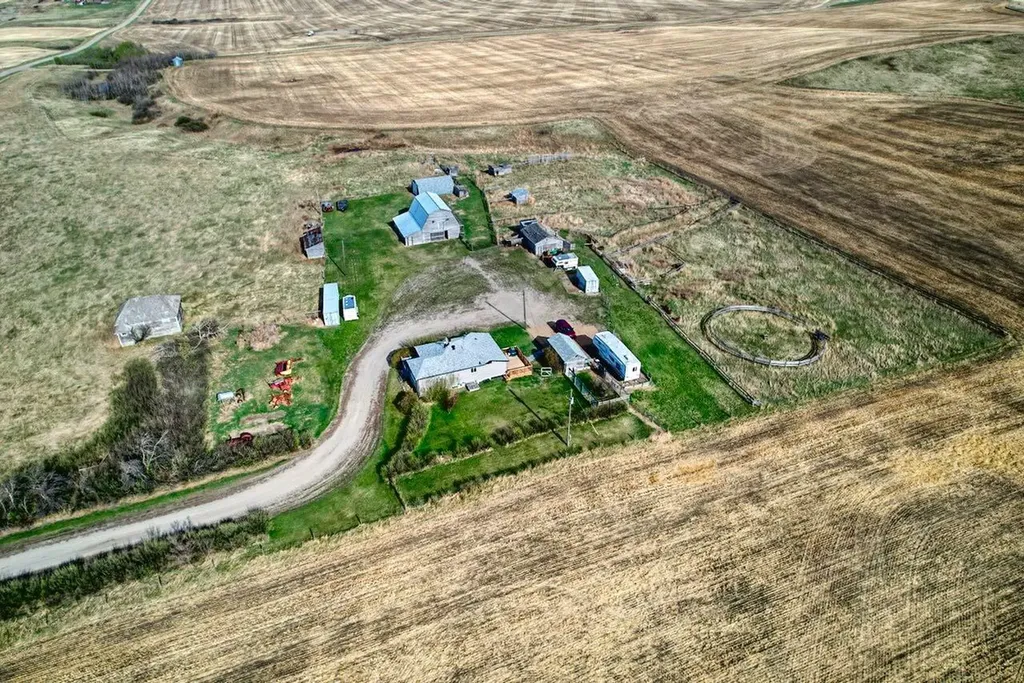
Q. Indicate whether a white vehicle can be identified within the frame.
Yes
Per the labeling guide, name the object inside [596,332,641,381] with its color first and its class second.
white trailer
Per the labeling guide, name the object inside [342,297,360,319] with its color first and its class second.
white vehicle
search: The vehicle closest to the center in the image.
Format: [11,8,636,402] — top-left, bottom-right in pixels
[548,319,575,335]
